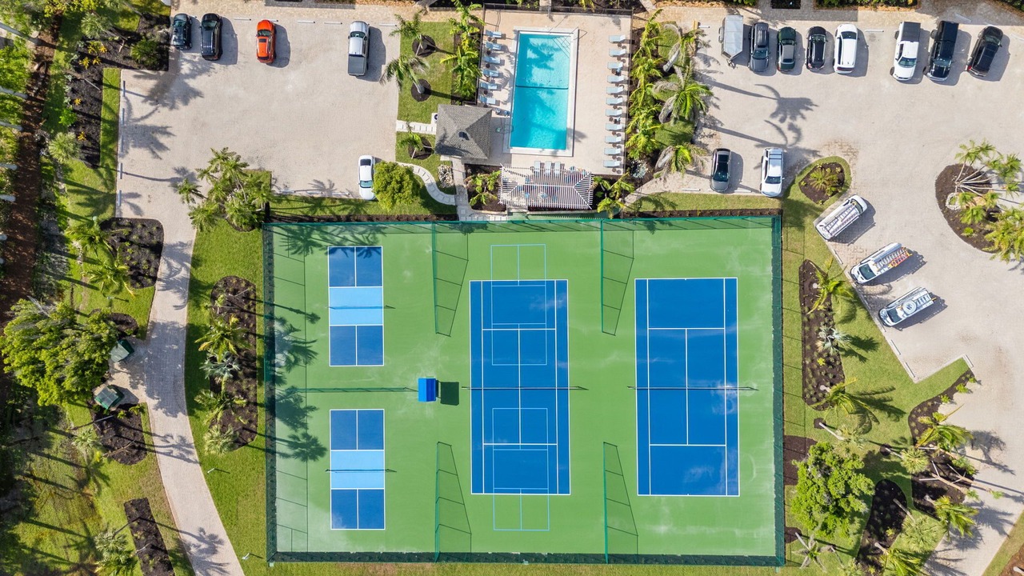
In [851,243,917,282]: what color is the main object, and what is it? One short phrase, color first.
white van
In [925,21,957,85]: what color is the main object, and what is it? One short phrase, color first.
black truck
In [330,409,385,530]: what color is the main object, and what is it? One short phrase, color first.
blue sports court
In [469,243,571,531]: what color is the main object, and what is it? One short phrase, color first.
blue tennis court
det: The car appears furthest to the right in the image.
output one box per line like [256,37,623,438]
[967,27,1000,76]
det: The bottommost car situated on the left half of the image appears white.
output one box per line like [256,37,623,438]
[356,156,377,200]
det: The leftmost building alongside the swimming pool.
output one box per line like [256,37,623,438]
[435,104,492,159]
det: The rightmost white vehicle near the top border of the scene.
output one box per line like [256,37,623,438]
[890,21,920,82]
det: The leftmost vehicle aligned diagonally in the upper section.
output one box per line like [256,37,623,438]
[815,197,865,240]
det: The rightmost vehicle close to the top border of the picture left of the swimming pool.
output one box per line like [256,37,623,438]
[348,21,370,77]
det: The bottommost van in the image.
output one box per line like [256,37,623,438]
[878,287,941,325]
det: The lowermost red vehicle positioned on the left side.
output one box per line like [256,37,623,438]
[254,20,277,64]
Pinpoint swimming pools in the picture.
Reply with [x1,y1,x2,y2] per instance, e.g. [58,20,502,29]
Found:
[505,27,580,156]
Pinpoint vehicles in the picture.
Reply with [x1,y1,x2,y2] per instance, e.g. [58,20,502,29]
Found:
[878,287,941,325]
[748,22,771,72]
[710,148,732,193]
[804,27,828,72]
[890,21,920,82]
[254,20,277,64]
[815,197,865,240]
[851,243,917,282]
[761,149,784,196]
[775,27,798,73]
[834,26,858,73]
[925,21,957,85]
[171,13,194,52]
[200,14,224,61]
[356,156,377,200]
[348,21,370,77]
[967,27,1000,76]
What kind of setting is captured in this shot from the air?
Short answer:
sports ground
